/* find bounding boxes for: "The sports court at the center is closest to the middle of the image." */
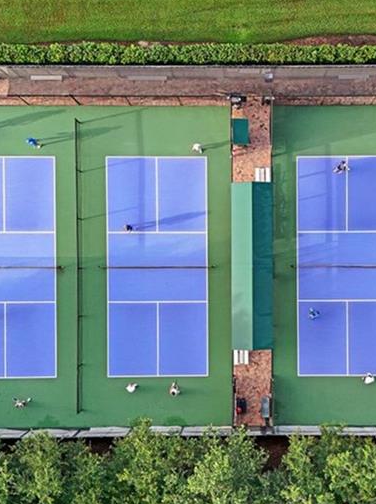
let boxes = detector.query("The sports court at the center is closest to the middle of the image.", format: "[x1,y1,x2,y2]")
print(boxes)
[106,156,208,377]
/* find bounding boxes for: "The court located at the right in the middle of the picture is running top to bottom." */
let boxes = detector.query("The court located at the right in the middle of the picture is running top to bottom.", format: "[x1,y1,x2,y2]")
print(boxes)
[297,155,376,376]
